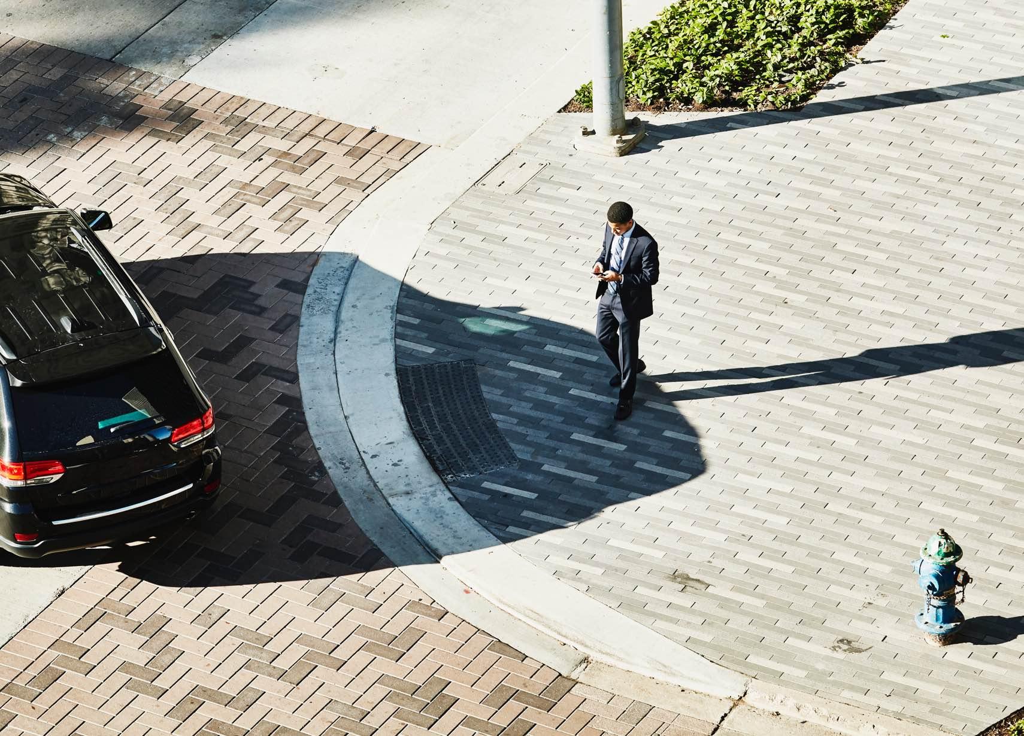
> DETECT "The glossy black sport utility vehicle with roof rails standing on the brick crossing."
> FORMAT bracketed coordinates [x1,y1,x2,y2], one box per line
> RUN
[0,177,223,564]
